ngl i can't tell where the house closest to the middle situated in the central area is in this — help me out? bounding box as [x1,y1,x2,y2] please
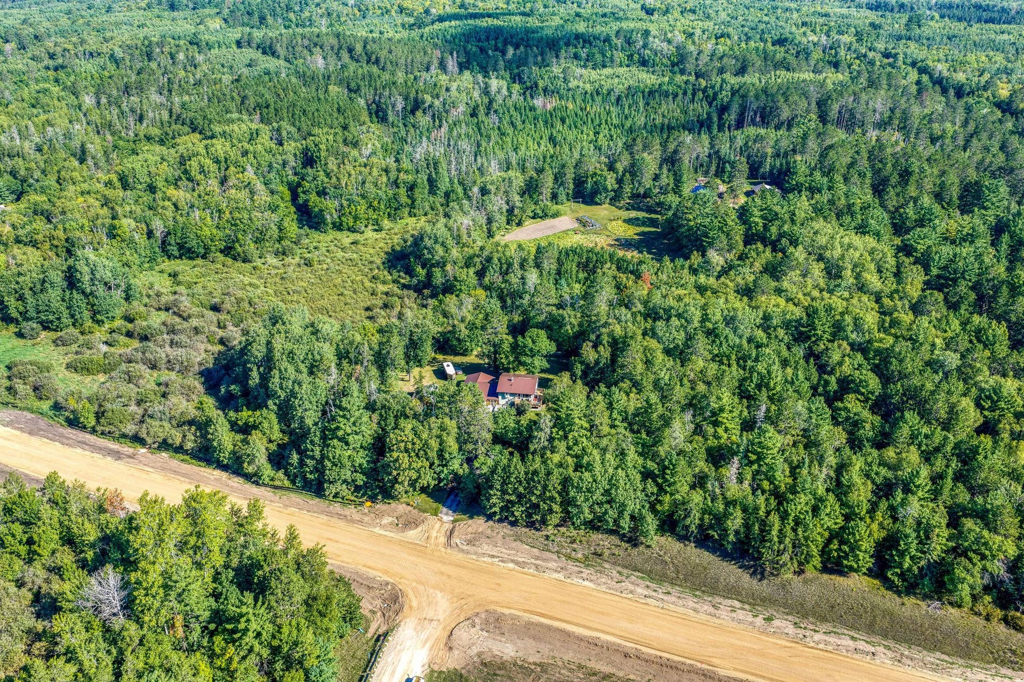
[466,371,547,410]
